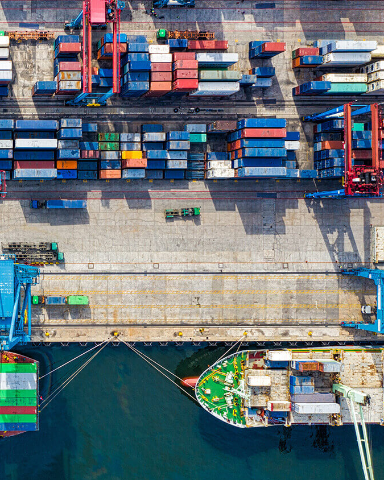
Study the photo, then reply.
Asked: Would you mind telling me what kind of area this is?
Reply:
port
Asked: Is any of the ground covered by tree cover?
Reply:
No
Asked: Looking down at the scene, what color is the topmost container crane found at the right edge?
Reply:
red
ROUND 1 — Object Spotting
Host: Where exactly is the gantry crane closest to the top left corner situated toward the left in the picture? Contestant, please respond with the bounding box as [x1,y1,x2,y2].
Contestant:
[60,0,125,109]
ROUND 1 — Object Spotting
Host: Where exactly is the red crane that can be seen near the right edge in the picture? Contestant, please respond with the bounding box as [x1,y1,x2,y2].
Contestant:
[301,99,384,207]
